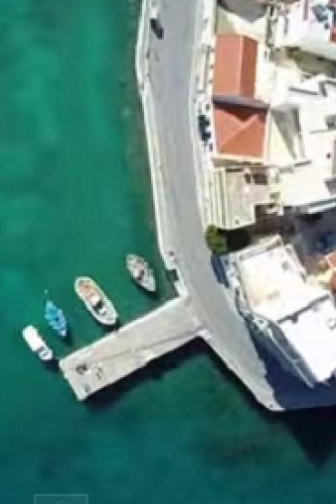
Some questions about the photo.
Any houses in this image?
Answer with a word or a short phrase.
Yes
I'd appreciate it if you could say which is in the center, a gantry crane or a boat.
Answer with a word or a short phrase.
boat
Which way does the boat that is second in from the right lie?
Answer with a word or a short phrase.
on a diagonal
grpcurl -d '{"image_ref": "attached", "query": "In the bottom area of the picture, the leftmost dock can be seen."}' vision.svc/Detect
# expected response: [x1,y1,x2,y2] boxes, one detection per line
[58,293,211,400]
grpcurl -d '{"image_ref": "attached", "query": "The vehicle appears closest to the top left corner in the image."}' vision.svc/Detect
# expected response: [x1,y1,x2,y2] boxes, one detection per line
[150,16,165,38]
